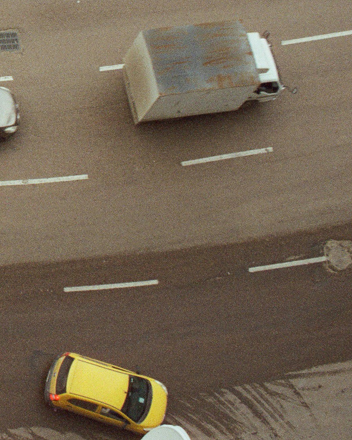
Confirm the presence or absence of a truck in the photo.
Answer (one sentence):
Yes, the frame does contain a truck.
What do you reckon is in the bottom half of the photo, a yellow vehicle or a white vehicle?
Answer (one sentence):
Visible in the bottom half of the photo is a yellow vehicle.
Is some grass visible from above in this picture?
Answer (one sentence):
No, the picture contains no grass.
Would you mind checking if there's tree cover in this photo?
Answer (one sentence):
No, there's no tree cover in this view.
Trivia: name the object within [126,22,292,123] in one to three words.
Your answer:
truck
